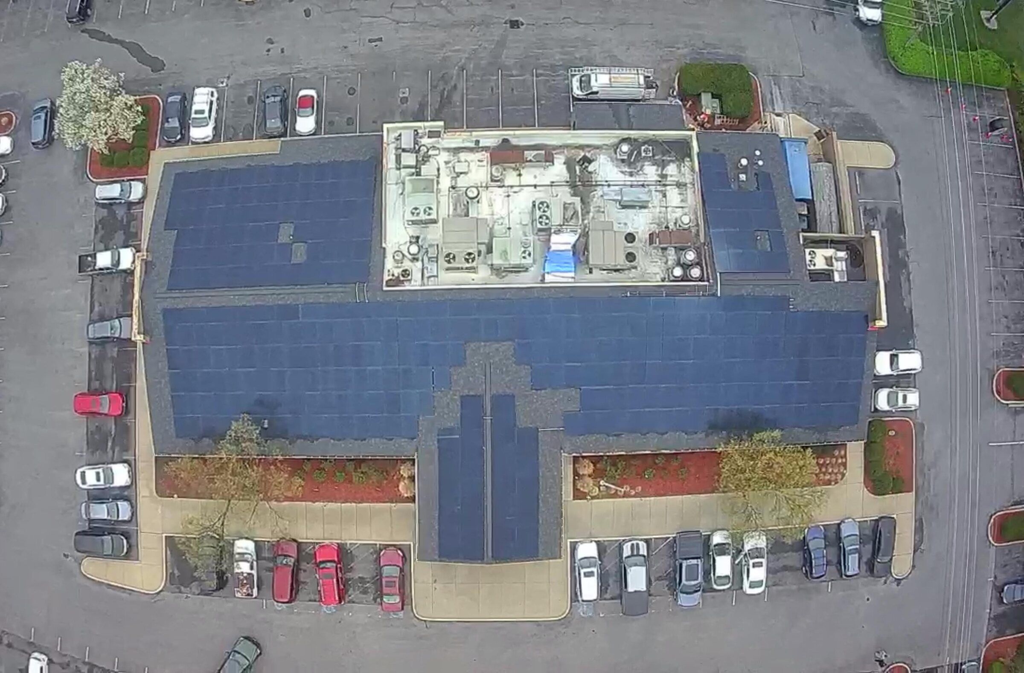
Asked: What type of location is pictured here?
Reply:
parking lot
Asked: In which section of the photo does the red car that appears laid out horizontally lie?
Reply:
left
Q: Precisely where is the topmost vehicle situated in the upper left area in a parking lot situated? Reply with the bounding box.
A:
[63,0,94,26]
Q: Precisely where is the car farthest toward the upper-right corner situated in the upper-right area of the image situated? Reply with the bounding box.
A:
[854,0,885,26]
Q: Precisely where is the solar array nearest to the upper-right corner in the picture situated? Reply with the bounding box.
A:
[701,152,789,271]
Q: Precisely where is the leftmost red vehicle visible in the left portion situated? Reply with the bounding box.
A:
[71,391,129,417]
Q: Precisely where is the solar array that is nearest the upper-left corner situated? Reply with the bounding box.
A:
[164,158,376,289]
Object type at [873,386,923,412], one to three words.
car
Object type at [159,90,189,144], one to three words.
car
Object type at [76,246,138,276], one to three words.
vehicle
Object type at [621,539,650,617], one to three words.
vehicle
